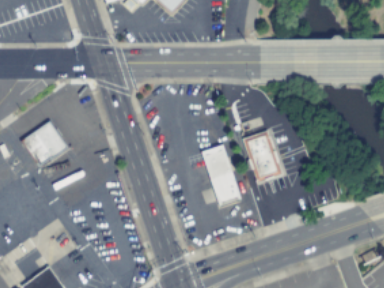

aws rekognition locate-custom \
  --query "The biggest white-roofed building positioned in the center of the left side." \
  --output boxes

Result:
[22,122,71,167]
